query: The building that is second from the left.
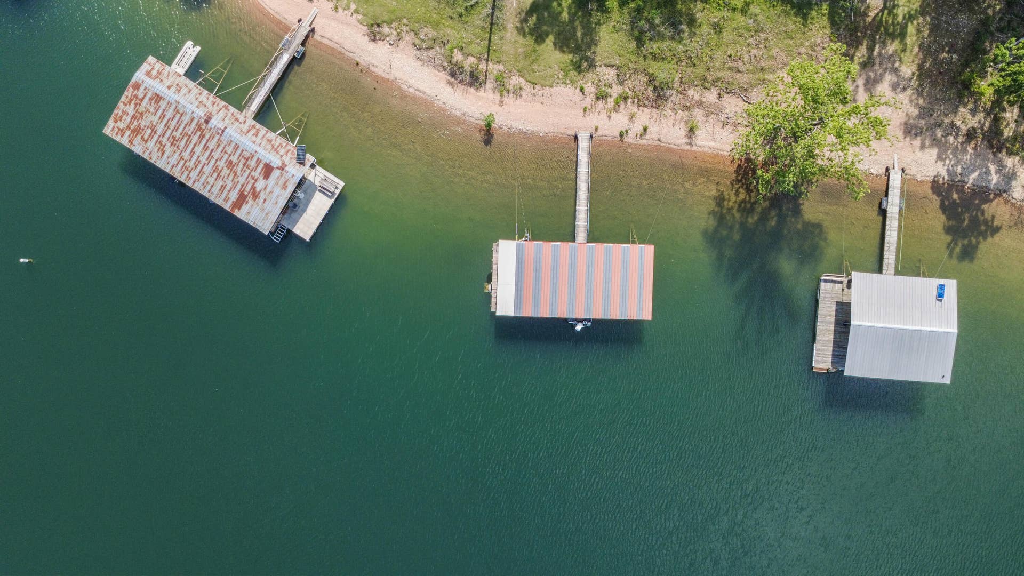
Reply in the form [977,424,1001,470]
[486,225,655,321]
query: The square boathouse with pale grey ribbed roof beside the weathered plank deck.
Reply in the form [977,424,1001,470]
[811,272,960,383]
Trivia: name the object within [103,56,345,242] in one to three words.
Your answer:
building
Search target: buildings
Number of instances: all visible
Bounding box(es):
[486,225,655,321]
[103,56,345,242]
[811,272,960,383]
